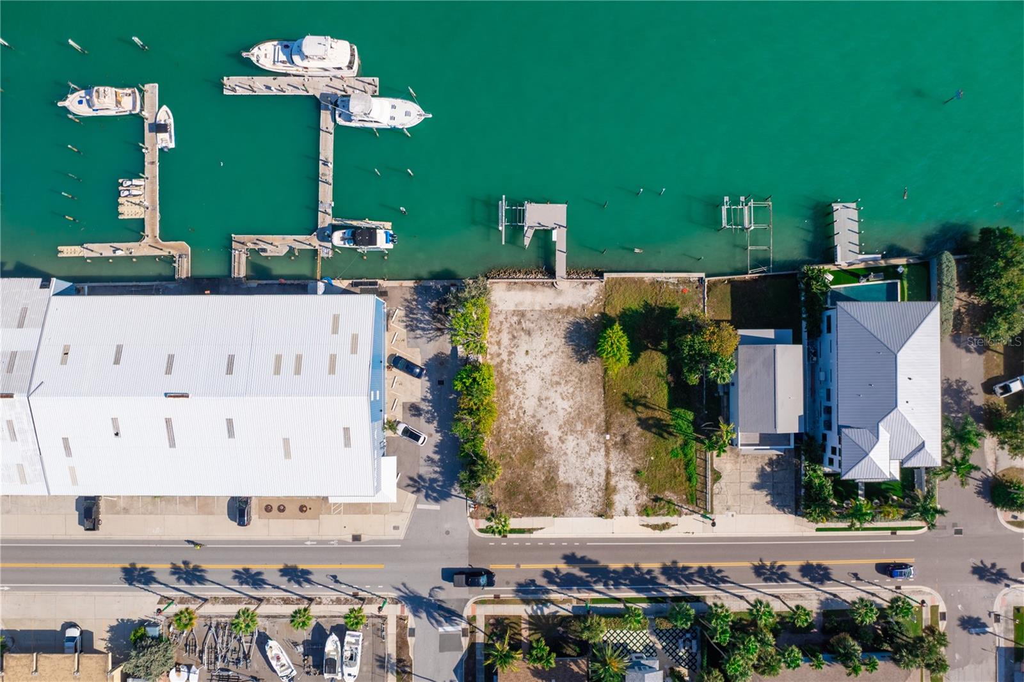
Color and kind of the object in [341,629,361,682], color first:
white boat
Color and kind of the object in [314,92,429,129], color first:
white boat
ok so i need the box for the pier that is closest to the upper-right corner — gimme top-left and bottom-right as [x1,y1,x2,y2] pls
[825,199,886,263]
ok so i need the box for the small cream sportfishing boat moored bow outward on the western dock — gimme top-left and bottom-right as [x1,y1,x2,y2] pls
[60,87,143,116]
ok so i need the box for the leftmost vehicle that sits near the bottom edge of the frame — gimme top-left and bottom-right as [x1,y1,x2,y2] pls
[64,623,84,648]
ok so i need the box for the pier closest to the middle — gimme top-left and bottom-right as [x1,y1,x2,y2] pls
[524,200,569,279]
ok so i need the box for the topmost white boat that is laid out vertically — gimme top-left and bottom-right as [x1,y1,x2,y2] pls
[155,106,178,156]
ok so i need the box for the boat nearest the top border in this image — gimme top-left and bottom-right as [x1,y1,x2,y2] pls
[239,35,363,78]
